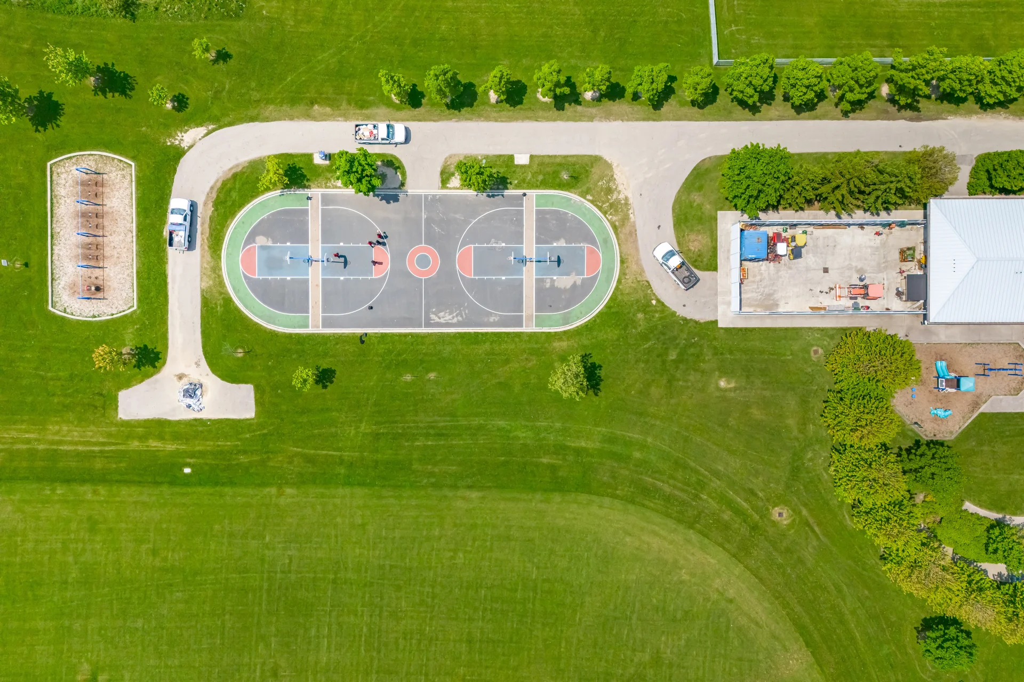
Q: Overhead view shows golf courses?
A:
No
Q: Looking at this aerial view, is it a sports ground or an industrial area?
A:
sports ground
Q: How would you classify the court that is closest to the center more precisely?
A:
basketball court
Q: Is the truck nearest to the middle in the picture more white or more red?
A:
white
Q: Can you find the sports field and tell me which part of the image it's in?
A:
bottom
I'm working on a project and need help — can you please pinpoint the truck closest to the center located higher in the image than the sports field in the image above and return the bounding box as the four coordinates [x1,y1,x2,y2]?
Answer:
[653,242,699,291]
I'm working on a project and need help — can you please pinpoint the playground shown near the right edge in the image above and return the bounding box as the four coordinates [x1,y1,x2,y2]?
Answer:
[890,342,1024,439]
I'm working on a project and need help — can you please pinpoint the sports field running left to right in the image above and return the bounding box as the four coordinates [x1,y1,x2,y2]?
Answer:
[0,483,821,682]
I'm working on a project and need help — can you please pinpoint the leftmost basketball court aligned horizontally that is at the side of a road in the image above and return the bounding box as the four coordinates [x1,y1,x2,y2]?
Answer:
[221,189,620,332]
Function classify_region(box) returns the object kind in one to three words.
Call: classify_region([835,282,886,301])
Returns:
work vehicle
